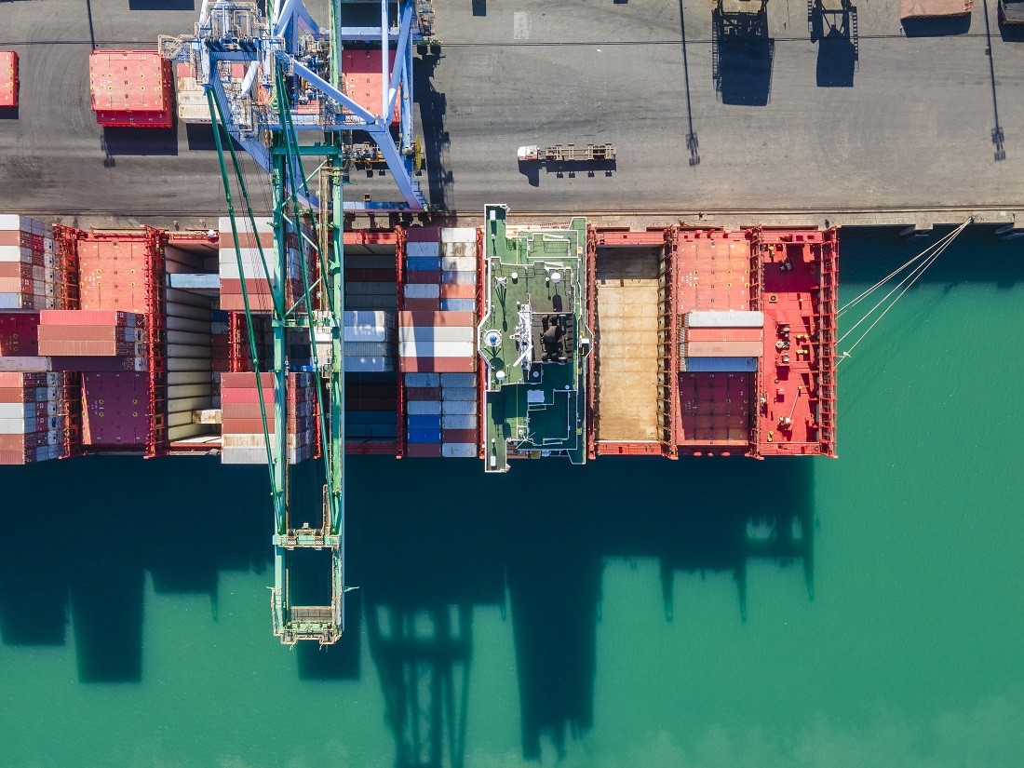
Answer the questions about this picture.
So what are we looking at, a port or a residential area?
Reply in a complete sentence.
It's a port.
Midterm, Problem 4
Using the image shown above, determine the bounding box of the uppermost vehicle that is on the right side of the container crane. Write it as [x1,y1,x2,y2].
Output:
[517,141,616,159]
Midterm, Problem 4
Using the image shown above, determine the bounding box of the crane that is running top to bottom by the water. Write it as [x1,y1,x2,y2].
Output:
[156,0,448,648]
